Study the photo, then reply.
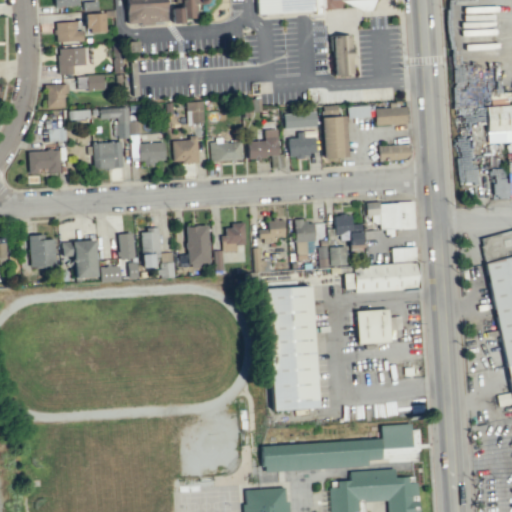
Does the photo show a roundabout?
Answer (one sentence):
No, the picture doesn't show any roundabout.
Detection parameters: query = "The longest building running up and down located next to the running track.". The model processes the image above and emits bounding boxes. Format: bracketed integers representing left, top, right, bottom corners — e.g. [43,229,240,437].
[269,286,320,412]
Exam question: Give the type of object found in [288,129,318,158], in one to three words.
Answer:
house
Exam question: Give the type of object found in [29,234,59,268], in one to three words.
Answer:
house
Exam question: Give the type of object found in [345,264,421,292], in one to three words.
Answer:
building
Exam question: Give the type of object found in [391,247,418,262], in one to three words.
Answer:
building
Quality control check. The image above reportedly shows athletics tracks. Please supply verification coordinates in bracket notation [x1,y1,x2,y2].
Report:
[0,284,248,422]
